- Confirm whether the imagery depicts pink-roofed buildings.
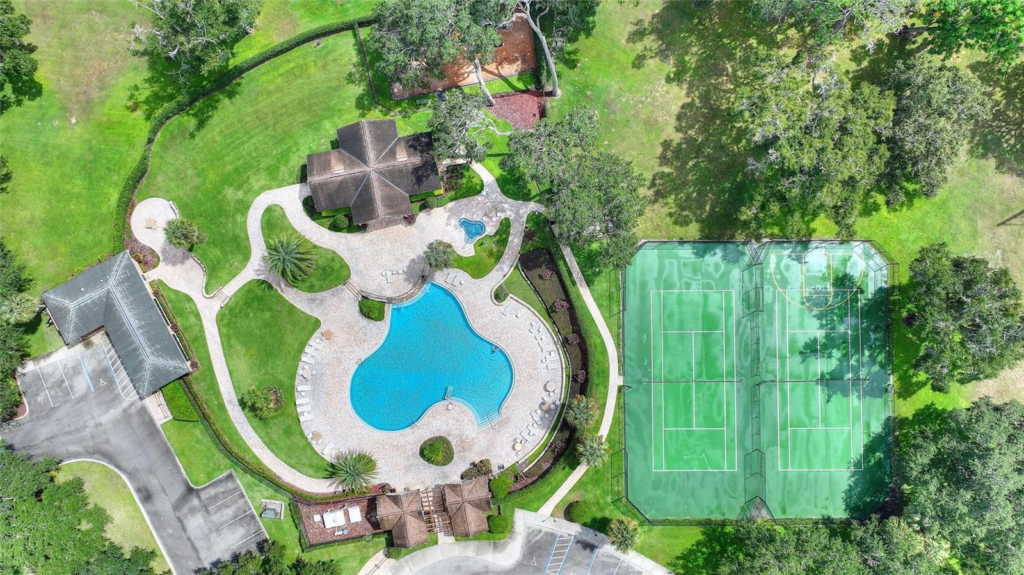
No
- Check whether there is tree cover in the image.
Yes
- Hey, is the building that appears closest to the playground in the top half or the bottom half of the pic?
top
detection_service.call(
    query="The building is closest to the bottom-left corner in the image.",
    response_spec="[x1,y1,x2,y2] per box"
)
[40,250,191,402]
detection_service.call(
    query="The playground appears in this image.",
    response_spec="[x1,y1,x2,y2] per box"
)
[389,5,537,99]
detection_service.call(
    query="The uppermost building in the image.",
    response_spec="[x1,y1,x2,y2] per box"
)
[307,119,442,224]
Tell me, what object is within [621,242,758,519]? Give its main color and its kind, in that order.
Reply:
green tennis court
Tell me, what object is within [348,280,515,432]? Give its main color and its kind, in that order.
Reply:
blue swimming pool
